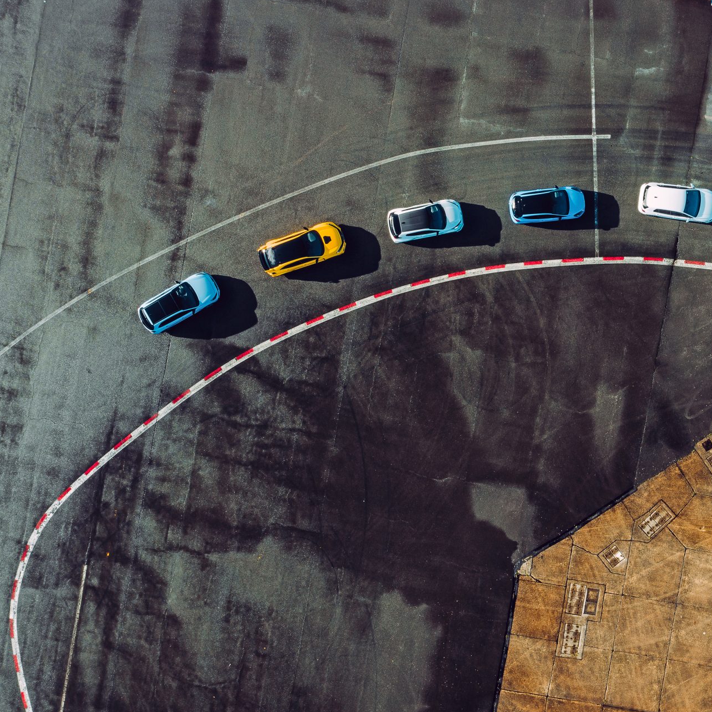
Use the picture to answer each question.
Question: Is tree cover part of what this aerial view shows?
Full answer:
No, there's no tree cover in this view.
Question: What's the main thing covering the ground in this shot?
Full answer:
Most of the picture is covered by paved ground.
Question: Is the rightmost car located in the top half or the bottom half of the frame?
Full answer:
Seen from above, the rightmost car lies in the top half of the view.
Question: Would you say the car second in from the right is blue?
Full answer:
Yes, the car second in from the right is indeed blue.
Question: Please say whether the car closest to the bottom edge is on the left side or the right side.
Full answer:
The car closest to the bottom edge sits on the left side.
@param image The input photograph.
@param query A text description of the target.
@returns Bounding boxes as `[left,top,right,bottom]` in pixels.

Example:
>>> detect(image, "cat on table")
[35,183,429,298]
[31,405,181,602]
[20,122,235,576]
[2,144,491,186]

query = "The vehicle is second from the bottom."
[258,222,346,277]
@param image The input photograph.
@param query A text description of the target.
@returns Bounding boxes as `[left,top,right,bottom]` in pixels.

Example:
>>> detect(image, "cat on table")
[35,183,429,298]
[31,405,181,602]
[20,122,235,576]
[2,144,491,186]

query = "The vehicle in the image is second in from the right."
[508,182,585,226]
